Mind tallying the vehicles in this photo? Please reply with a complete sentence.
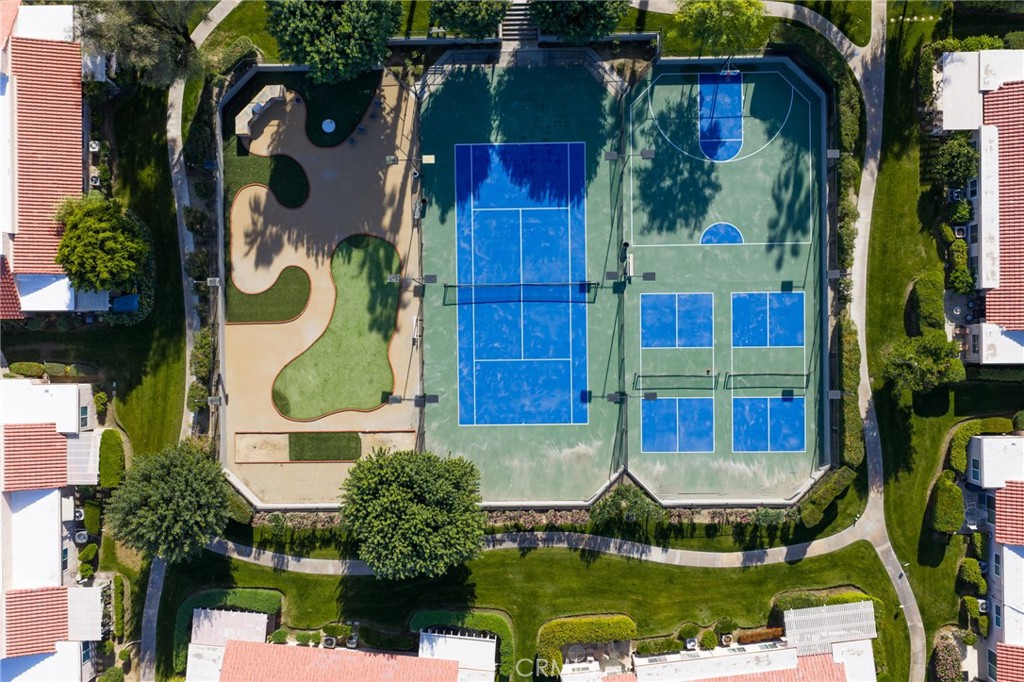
The picture shows no vehicles.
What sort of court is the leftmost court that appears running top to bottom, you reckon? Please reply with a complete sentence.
The leftmost court that appears running top to bottom appears to be a tennis court.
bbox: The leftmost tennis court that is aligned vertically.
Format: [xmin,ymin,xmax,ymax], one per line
[419,66,623,501]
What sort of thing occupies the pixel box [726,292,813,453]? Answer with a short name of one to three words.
sports court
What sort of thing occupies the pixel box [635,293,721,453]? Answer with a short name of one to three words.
sports court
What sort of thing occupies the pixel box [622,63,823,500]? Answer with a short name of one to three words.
basketball court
